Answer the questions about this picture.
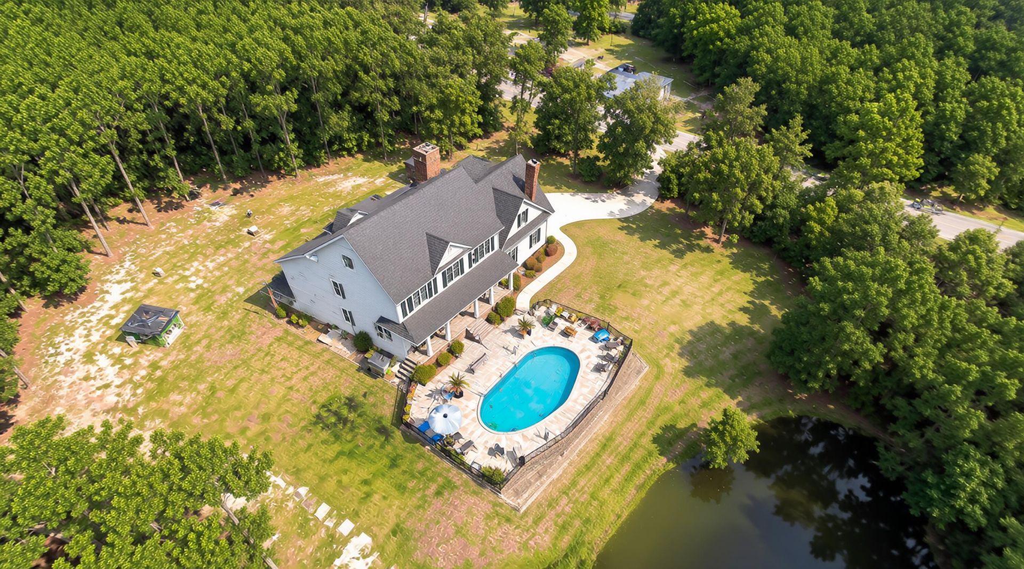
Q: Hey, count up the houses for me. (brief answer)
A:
2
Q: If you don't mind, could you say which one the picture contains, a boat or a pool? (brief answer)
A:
pool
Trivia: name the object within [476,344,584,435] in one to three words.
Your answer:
swimming pool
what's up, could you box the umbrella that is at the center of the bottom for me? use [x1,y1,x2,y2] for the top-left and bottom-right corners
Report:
[428,410,462,443]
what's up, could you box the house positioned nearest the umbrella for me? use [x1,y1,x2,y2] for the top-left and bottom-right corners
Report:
[260,145,556,380]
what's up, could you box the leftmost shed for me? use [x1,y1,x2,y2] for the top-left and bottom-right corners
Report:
[122,301,182,346]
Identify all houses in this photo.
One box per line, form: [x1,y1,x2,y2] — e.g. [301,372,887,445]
[260,145,556,380]
[600,72,672,104]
